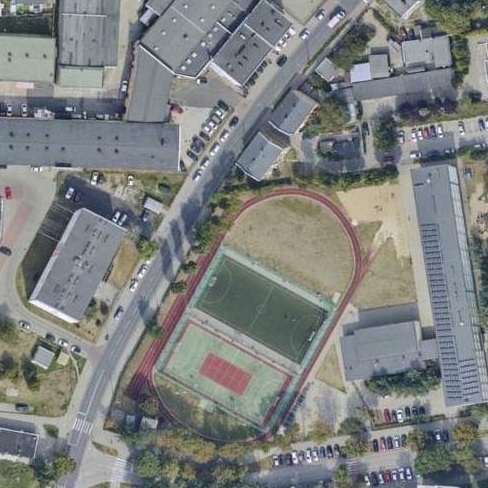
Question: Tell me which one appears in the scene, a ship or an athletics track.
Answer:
athletics track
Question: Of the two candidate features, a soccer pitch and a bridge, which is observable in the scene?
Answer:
soccer pitch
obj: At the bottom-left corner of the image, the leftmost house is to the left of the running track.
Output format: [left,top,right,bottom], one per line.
[0,427,39,464]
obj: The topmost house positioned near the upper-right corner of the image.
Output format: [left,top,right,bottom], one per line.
[387,0,419,18]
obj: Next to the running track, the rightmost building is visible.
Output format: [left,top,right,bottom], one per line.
[410,165,488,406]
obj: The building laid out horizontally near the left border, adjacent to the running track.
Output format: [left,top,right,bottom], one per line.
[0,117,181,171]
